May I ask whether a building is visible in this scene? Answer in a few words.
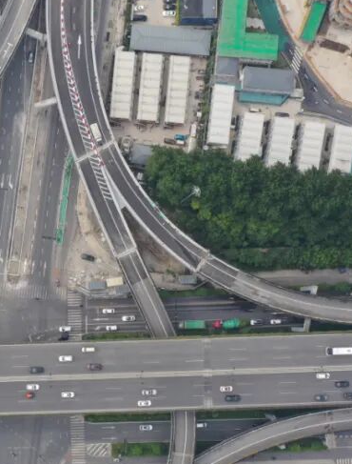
Yes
